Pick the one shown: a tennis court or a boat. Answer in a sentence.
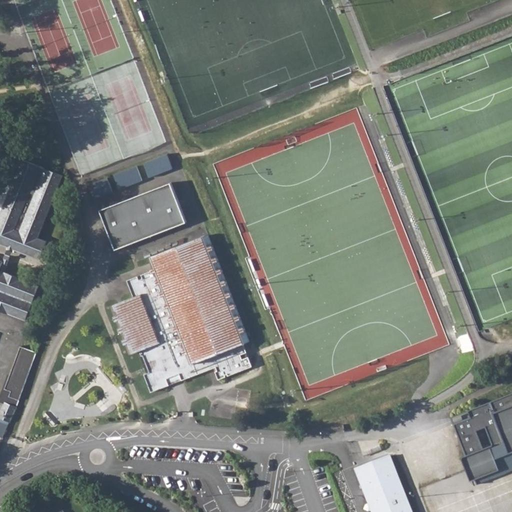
It is a tennis court that can be seen here.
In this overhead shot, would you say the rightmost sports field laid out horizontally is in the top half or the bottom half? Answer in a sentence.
It is in the top half that the rightmost sports field laid out horizontally appears.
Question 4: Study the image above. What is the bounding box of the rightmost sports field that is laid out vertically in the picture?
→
[384,38,512,332]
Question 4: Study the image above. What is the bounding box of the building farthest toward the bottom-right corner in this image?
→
[452,394,512,486]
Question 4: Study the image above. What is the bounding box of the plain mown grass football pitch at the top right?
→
[351,0,490,52]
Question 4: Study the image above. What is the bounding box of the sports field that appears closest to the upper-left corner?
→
[141,0,356,127]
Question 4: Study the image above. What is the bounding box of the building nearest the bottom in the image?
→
[354,456,412,512]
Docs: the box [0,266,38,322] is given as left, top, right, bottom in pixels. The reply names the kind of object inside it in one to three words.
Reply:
house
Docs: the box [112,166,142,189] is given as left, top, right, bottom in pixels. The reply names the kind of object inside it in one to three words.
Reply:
shed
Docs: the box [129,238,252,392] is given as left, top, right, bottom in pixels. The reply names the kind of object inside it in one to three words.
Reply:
building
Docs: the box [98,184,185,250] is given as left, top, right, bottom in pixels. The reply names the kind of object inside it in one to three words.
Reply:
building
